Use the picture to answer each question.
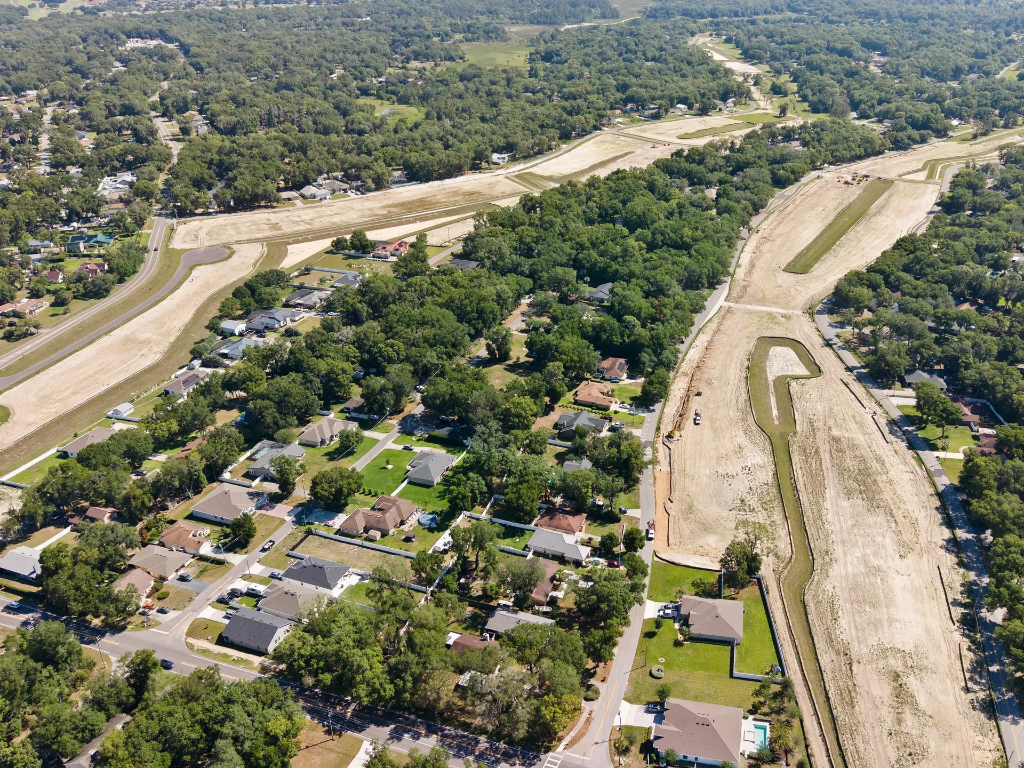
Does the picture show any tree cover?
Yes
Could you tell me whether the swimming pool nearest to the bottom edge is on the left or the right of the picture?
right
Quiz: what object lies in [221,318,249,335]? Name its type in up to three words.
shed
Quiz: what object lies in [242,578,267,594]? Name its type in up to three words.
vehicle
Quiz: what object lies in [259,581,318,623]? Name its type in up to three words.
house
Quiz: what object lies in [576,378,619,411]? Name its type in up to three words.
house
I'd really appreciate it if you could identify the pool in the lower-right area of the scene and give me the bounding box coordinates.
[739,722,768,749]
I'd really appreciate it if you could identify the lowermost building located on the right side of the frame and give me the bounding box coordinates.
[653,693,739,767]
